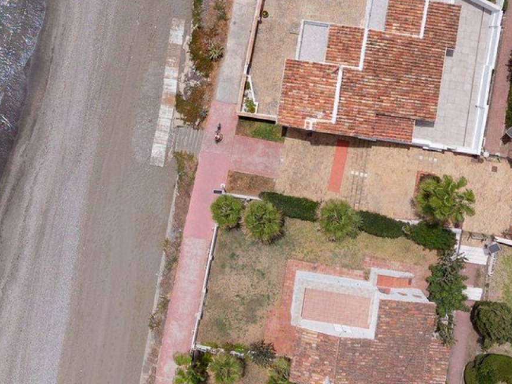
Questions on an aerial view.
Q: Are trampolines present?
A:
No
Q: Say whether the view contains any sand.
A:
Yes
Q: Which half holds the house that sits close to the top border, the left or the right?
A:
right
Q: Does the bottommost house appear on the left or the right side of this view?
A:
right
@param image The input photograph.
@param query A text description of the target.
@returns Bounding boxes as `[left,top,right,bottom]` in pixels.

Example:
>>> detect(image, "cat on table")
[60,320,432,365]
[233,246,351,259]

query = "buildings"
[277,0,462,143]
[288,265,451,384]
